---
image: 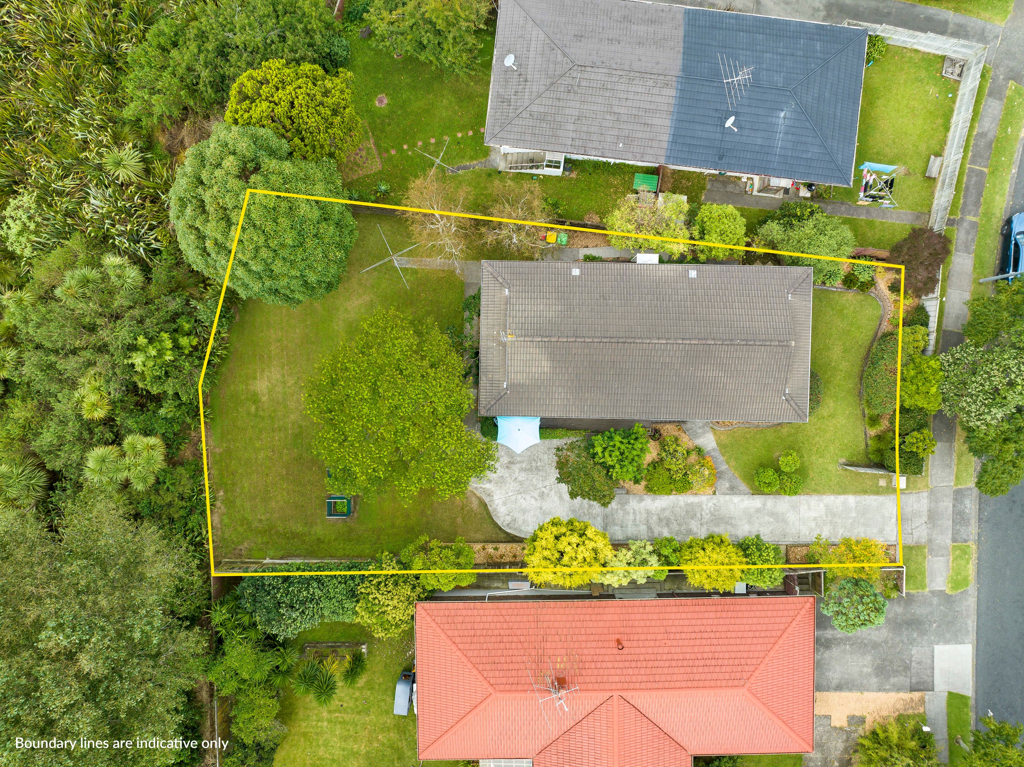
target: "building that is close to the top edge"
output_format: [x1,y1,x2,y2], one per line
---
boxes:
[481,0,871,192]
